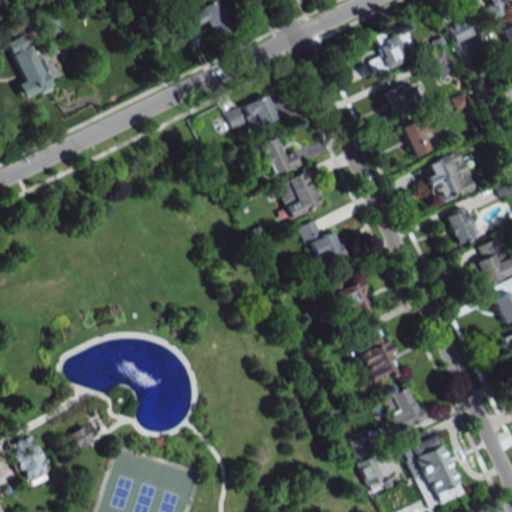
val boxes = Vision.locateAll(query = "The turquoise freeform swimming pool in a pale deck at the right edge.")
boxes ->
[474,202,512,236]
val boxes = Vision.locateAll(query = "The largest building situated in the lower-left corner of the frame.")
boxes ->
[12,432,50,490]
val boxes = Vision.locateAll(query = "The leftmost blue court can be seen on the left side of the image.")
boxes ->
[110,476,133,510]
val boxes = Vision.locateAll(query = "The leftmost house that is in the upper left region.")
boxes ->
[12,37,56,100]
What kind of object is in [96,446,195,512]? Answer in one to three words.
sports court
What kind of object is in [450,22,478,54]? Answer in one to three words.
house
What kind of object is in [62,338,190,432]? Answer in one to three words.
pond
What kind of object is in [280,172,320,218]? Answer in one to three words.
house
